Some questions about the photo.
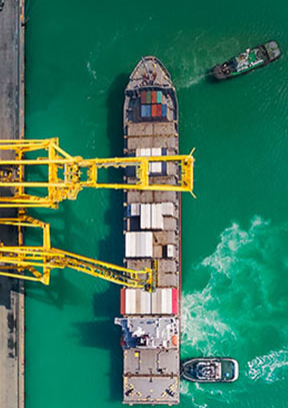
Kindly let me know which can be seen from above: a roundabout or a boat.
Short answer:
boat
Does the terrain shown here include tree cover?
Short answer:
No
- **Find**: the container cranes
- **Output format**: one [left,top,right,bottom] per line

[0,210,150,289]
[0,135,193,210]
